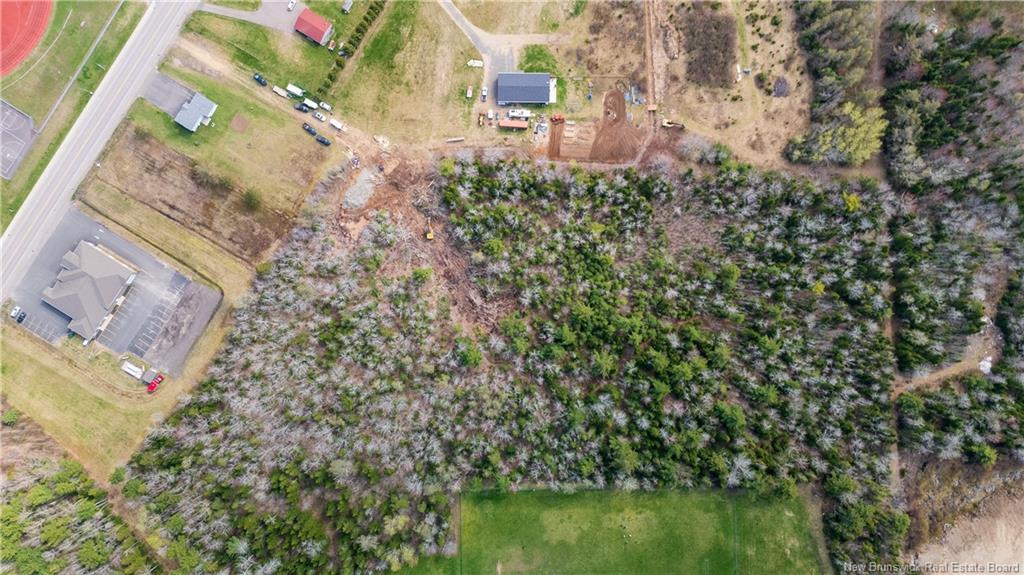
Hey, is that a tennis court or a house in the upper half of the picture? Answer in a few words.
house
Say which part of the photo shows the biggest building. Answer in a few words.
left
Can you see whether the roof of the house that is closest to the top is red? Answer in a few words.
Yes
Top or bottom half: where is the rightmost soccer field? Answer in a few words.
bottom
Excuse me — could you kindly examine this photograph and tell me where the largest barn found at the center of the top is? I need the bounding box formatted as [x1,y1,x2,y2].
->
[497,72,550,103]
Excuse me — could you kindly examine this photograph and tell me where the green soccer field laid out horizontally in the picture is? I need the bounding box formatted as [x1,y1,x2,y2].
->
[397,491,819,575]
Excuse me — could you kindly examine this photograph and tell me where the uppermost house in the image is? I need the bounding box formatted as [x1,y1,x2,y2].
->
[294,8,333,45]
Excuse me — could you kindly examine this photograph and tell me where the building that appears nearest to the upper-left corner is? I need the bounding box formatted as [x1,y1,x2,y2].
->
[175,90,220,132]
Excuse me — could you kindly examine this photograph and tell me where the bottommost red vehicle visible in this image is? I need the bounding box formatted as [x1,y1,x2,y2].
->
[148,374,164,391]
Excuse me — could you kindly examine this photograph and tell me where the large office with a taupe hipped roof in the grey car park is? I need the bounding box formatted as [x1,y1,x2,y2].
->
[41,239,140,340]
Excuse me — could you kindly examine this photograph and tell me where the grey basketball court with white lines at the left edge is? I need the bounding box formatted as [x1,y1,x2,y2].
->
[0,100,35,179]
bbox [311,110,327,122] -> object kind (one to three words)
vehicle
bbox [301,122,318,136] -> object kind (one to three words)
vehicle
